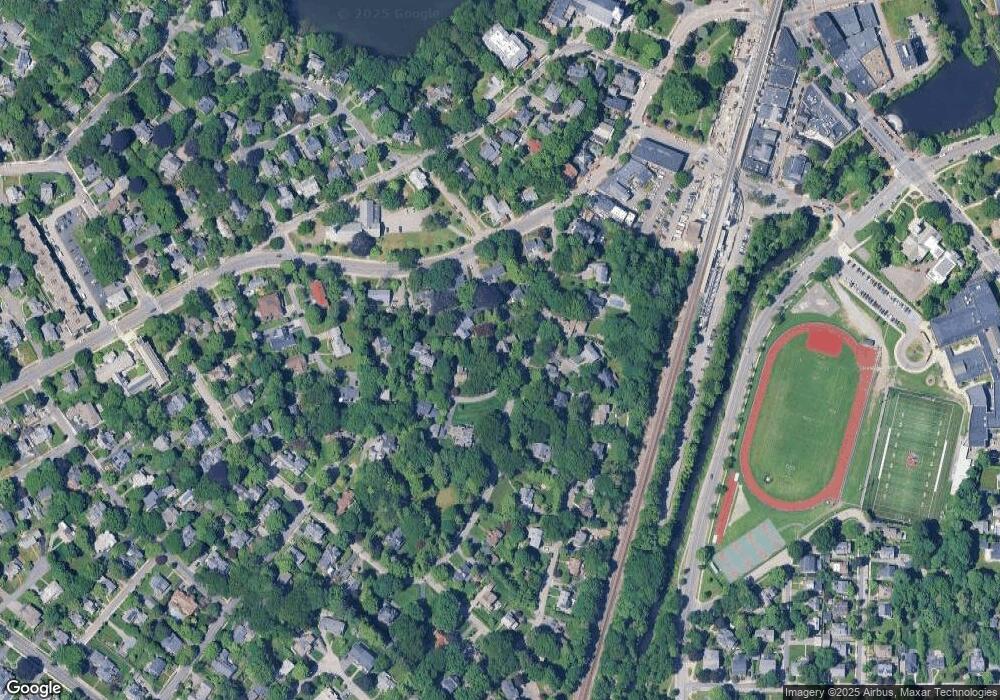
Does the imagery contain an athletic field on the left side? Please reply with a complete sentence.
No, looking on the left side, there is no athletic field.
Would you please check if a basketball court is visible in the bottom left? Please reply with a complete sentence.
No, no basketball court is visible in the bottom left.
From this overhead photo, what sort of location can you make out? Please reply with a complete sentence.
The picture captures a residential area.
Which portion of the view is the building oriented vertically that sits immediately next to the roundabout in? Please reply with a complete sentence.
Look in the right portion of the view to spot the building oriented vertically that sits immediately next to the roundabout.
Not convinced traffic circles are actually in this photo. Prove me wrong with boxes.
[896,334,934,371]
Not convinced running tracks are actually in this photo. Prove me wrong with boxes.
[742,321,878,512]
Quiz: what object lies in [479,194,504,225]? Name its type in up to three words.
house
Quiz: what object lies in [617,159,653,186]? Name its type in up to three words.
building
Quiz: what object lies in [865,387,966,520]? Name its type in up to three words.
sports field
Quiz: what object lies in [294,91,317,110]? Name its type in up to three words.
house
